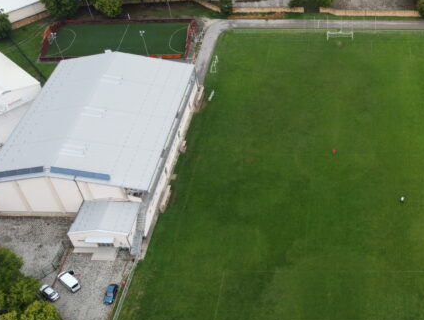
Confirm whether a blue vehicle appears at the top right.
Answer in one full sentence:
No, I see no blue vehicle at the top right.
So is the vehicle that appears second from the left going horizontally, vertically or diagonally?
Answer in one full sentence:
From this overhead view, the vehicle that appears second from the left appears to run diagonally.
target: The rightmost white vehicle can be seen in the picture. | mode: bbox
[56,270,80,292]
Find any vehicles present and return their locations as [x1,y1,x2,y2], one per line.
[101,283,119,305]
[38,284,59,303]
[56,270,80,292]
